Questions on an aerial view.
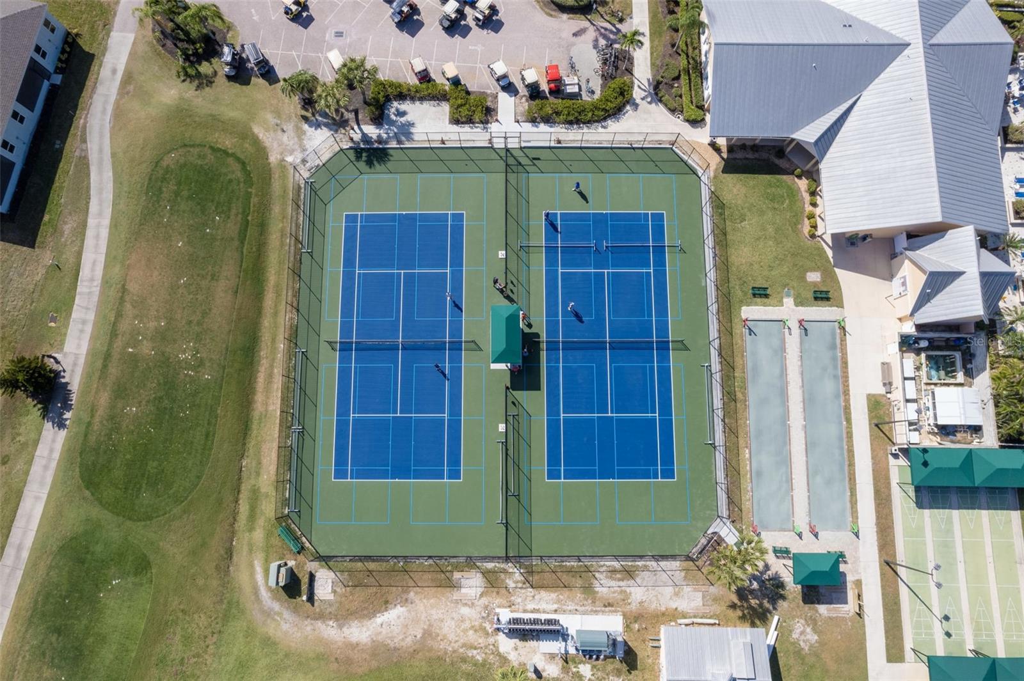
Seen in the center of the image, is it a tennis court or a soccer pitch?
tennis court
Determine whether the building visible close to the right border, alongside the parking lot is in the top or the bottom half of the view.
top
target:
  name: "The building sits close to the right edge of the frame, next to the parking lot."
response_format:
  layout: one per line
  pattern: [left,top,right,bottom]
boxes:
[692,0,1015,246]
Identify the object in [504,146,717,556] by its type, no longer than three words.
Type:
tennis court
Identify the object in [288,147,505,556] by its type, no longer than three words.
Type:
tennis court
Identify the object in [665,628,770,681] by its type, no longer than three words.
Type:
shed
